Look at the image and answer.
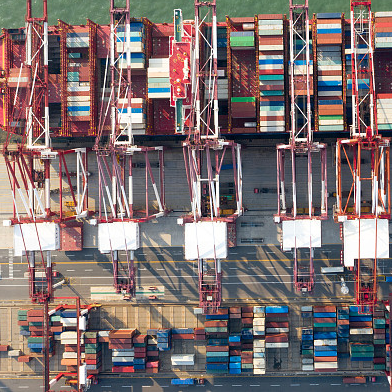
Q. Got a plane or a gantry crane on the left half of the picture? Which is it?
gantry crane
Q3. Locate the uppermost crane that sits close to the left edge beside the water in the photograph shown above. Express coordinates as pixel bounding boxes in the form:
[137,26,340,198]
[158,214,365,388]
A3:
[0,0,109,308]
